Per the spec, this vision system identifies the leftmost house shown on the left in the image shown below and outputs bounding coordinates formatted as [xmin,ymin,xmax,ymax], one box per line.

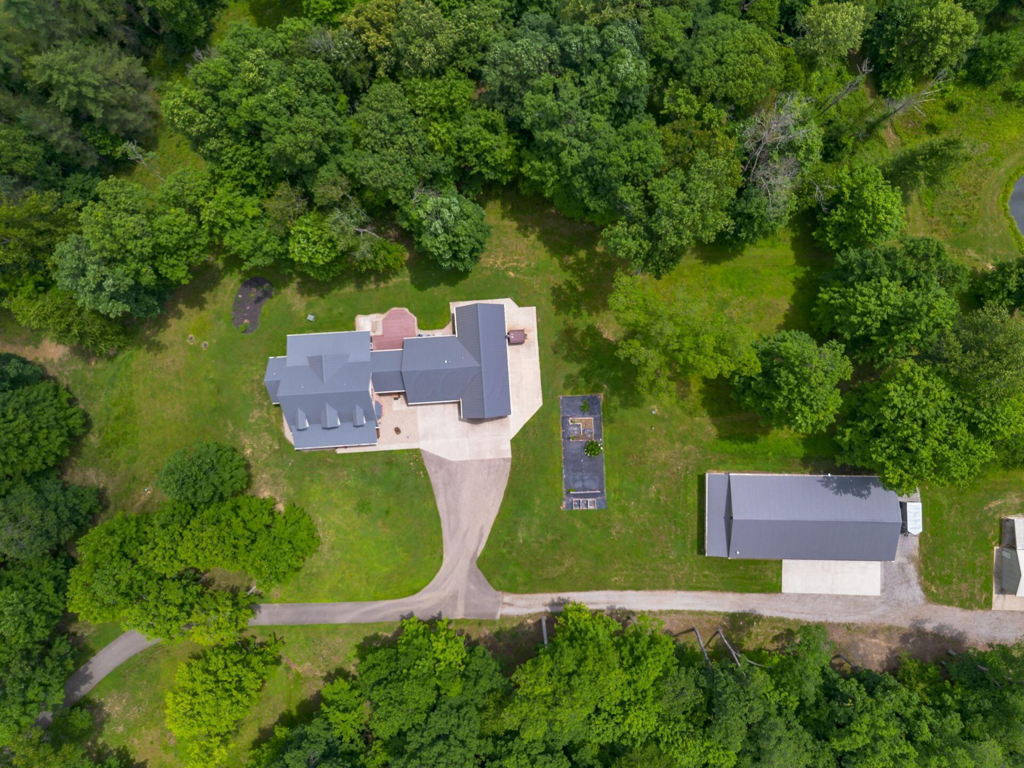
[264,329,406,450]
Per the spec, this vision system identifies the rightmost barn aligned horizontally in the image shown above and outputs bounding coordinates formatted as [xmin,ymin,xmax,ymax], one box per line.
[701,472,905,562]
